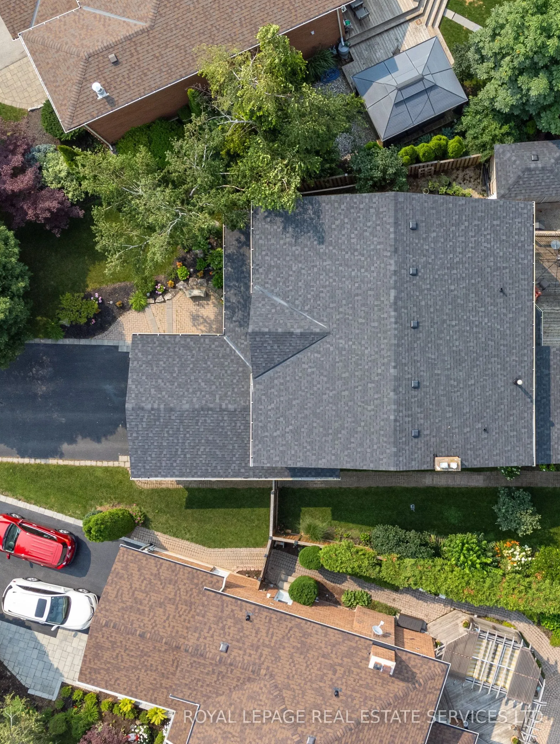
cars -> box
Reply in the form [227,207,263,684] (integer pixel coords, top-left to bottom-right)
[0,512,81,570]
[0,575,98,632]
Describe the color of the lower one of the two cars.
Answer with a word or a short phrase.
white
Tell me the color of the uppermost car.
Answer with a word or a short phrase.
red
